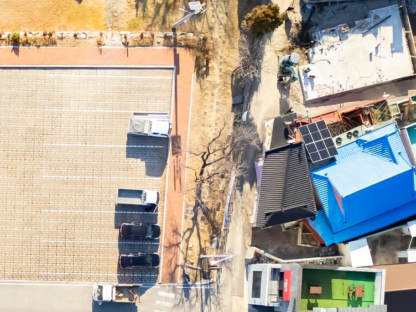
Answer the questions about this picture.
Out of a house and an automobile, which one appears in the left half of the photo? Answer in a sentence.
It is an automobile that can be seen in the left half of the photo.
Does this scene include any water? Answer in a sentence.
No, no water is visible.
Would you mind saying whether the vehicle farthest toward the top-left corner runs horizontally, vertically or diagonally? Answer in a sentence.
What the image shows is the vehicle farthest toward the top-left corner lying horizontally.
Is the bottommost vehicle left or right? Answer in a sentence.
The bottommost vehicle sits on the left side.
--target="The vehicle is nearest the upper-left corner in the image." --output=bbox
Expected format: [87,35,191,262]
[126,115,173,135]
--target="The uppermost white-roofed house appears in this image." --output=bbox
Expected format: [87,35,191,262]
[286,5,413,104]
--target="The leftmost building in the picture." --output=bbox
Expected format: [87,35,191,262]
[247,113,317,228]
